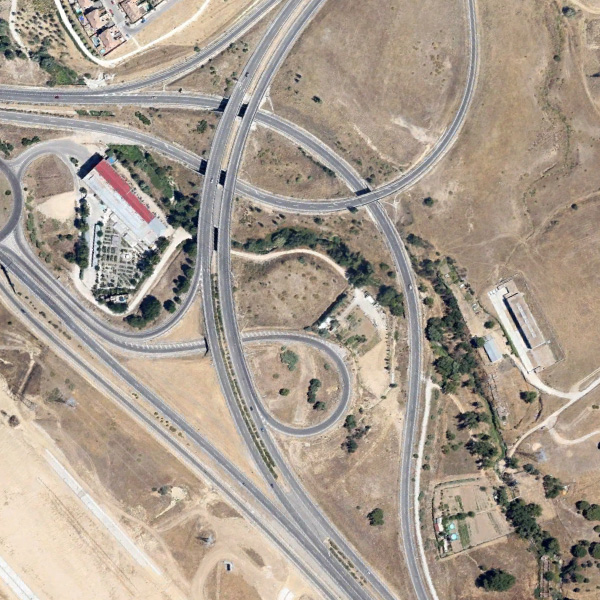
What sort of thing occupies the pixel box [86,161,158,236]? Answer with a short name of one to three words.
building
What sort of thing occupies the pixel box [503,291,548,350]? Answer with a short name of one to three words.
building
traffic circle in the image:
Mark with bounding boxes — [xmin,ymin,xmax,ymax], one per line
[0,156,24,242]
